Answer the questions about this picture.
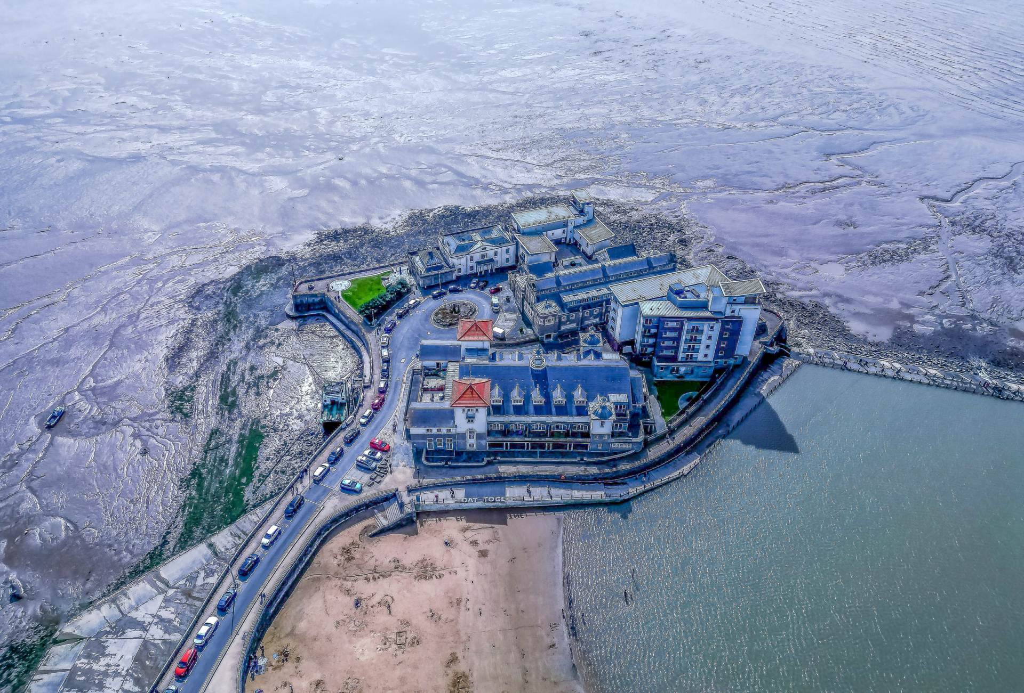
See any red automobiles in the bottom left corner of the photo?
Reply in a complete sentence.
Yes, I can see a red automobile in the bottom left corner of the photo.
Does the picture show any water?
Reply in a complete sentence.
Yes, water can be seen from above here.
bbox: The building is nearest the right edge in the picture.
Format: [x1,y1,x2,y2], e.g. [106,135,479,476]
[607,264,766,382]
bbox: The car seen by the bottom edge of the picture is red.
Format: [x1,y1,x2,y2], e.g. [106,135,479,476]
[173,647,199,678]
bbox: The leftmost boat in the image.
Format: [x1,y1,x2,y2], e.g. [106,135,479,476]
[36,406,69,428]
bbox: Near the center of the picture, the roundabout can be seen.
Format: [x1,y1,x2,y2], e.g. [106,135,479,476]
[432,300,479,327]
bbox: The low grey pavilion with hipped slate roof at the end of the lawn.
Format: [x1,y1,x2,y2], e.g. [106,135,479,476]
[408,245,455,287]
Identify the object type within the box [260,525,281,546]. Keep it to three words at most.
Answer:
car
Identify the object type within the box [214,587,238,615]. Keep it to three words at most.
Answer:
car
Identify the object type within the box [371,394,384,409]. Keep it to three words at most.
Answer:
vehicle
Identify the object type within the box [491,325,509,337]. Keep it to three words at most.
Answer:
vehicle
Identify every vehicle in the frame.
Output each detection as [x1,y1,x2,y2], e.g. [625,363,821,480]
[237,554,259,576]
[476,279,489,290]
[447,284,463,292]
[380,348,389,362]
[396,305,411,319]
[338,479,364,493]
[379,333,389,345]
[357,407,374,425]
[311,463,331,482]
[384,319,397,332]
[343,428,360,444]
[369,438,390,452]
[429,289,448,298]
[488,284,505,293]
[194,616,219,646]
[214,587,238,615]
[491,325,509,337]
[326,445,345,463]
[260,525,281,546]
[361,448,385,462]
[355,455,376,470]
[378,364,388,379]
[407,296,422,309]
[371,394,384,409]
[468,277,479,288]
[283,495,305,517]
[173,647,199,678]
[491,298,500,310]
